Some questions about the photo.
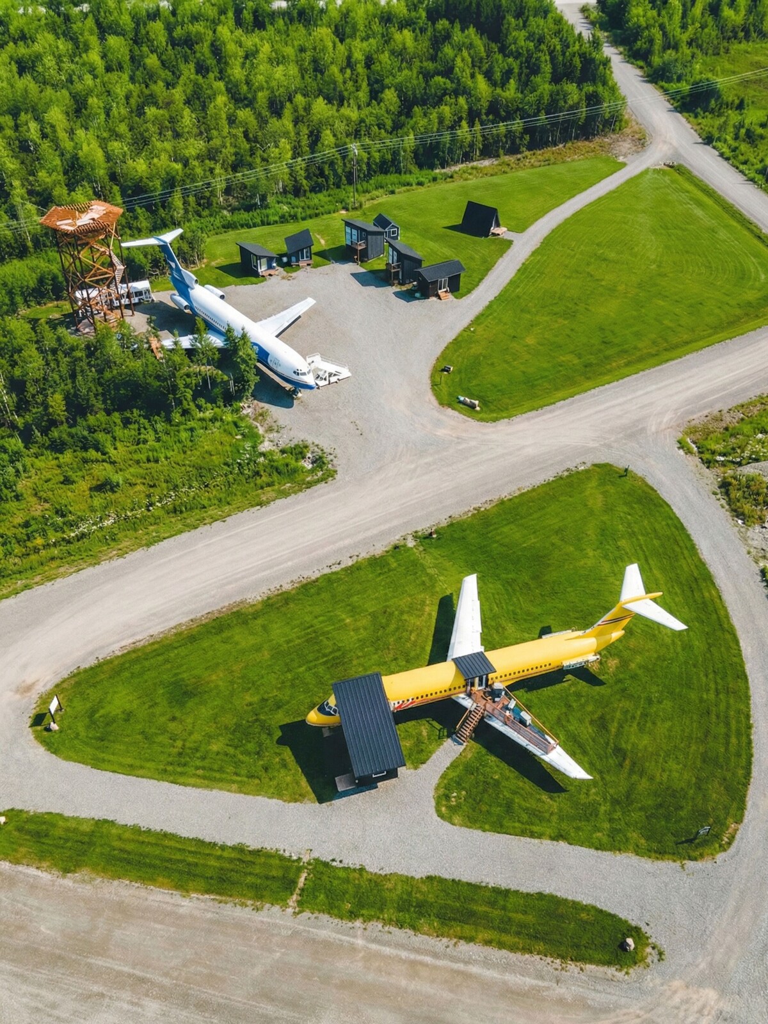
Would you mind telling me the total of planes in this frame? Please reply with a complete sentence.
I count 2 planes.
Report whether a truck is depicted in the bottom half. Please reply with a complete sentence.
No, no truck appears in the bottom half.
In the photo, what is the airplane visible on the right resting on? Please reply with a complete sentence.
In this view, the airplane visible on the right is located on the grass.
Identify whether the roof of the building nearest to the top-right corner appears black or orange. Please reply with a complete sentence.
In this view, the roof of the building nearest to the top-right corner is black.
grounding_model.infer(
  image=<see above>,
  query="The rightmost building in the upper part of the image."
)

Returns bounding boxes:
[458,195,514,239]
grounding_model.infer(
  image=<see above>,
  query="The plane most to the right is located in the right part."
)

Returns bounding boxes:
[380,563,689,780]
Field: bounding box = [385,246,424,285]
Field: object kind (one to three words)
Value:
building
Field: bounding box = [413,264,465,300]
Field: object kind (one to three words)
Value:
building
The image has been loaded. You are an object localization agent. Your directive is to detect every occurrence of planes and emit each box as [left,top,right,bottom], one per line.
[121,228,316,394]
[380,563,689,780]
